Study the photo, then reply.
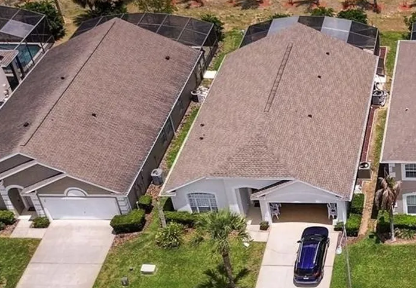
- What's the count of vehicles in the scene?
1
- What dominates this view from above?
buildings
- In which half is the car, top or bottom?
bottom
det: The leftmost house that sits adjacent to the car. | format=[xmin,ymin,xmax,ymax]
[165,22,380,225]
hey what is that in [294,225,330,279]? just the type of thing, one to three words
car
